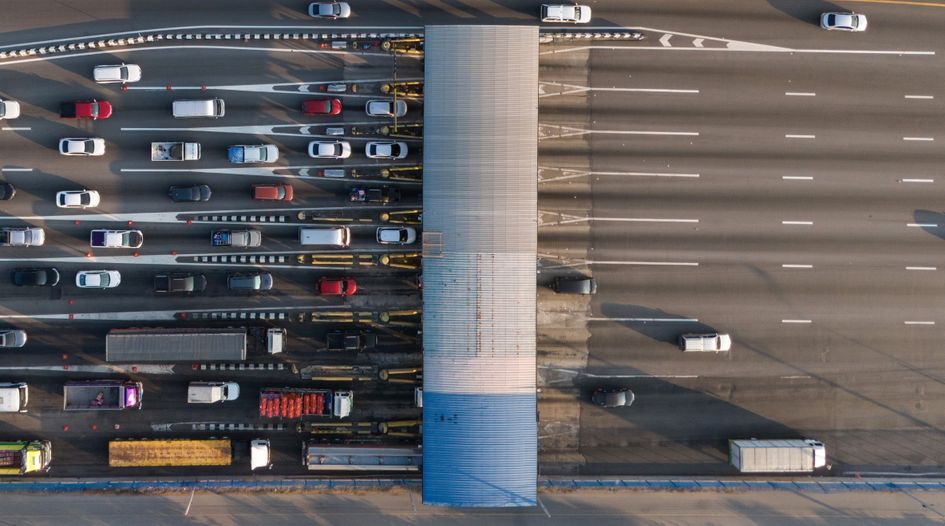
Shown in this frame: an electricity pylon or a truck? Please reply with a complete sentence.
Visible in the photo is a truck.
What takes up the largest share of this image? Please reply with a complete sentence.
Most of the picture is covered by paved ground.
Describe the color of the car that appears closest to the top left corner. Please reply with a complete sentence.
The car that appears closest to the top left corner is white.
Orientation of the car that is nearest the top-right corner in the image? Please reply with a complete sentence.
The car that is nearest the top-right corner is oriented from side to side.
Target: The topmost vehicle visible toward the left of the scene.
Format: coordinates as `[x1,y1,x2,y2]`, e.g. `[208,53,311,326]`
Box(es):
[309,0,351,21]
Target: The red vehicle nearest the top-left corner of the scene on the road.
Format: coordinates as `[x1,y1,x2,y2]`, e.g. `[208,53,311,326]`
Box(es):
[61,98,114,120]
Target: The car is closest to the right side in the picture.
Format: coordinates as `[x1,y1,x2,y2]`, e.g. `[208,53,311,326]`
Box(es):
[819,10,866,33]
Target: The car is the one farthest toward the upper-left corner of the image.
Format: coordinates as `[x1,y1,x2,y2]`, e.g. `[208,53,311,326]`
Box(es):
[0,98,22,119]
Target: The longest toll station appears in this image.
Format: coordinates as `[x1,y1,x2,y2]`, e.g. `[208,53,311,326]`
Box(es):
[422,24,539,507]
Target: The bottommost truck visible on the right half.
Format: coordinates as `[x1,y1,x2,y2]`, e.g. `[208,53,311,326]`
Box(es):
[727,438,830,472]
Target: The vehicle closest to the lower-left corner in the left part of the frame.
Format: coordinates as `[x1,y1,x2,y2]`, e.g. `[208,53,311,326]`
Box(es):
[0,439,59,472]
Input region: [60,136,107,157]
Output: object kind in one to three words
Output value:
car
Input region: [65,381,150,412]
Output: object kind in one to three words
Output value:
truck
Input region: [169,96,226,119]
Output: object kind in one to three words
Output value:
vehicle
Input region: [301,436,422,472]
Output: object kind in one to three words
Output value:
trailer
